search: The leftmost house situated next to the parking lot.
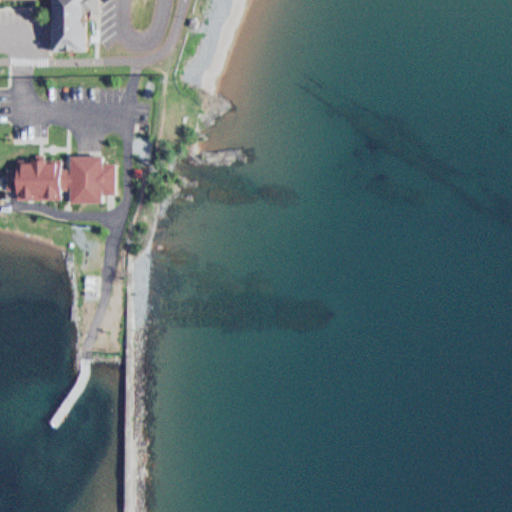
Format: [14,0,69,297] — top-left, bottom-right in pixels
[11,156,62,206]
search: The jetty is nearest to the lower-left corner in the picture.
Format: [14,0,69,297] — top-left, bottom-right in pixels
[52,357,92,428]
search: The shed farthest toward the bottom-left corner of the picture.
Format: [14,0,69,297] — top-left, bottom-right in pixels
[84,276,101,300]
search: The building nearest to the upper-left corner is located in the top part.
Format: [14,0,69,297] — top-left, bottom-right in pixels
[50,0,89,52]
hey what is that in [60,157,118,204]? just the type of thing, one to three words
house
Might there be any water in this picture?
Yes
